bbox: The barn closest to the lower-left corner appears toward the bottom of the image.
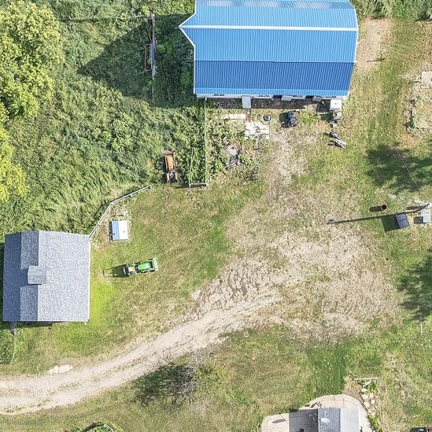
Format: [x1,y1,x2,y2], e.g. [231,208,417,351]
[2,232,90,323]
